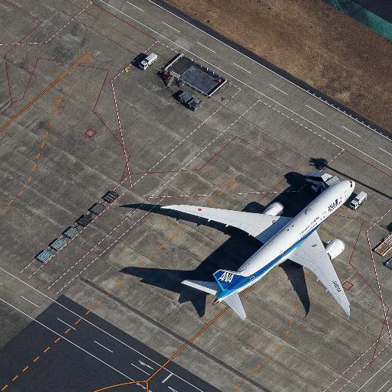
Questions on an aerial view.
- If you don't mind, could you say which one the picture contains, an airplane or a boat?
airplane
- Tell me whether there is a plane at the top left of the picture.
No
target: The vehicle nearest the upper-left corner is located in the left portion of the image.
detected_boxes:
[138,48,158,70]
